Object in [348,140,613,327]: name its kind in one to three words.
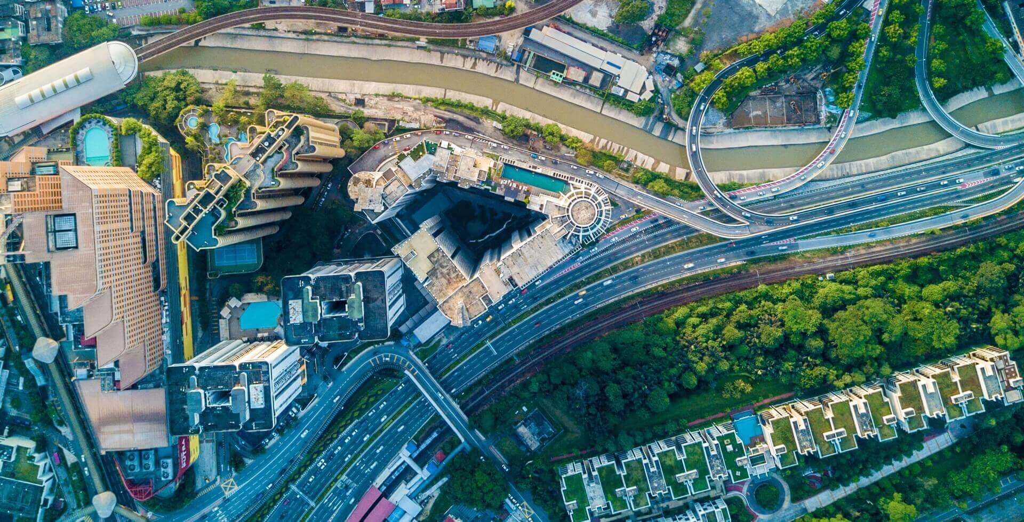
building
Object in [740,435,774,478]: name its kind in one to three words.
building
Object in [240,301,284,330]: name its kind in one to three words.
swimming pool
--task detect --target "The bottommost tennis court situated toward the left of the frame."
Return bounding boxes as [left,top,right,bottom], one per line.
[208,238,263,278]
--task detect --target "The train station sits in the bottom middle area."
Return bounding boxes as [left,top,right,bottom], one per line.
[344,441,469,522]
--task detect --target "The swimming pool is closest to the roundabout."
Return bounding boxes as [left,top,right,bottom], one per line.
[731,409,762,445]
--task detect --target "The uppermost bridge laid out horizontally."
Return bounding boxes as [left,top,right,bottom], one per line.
[134,0,585,62]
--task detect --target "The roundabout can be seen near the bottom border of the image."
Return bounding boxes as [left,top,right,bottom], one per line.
[744,475,791,518]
